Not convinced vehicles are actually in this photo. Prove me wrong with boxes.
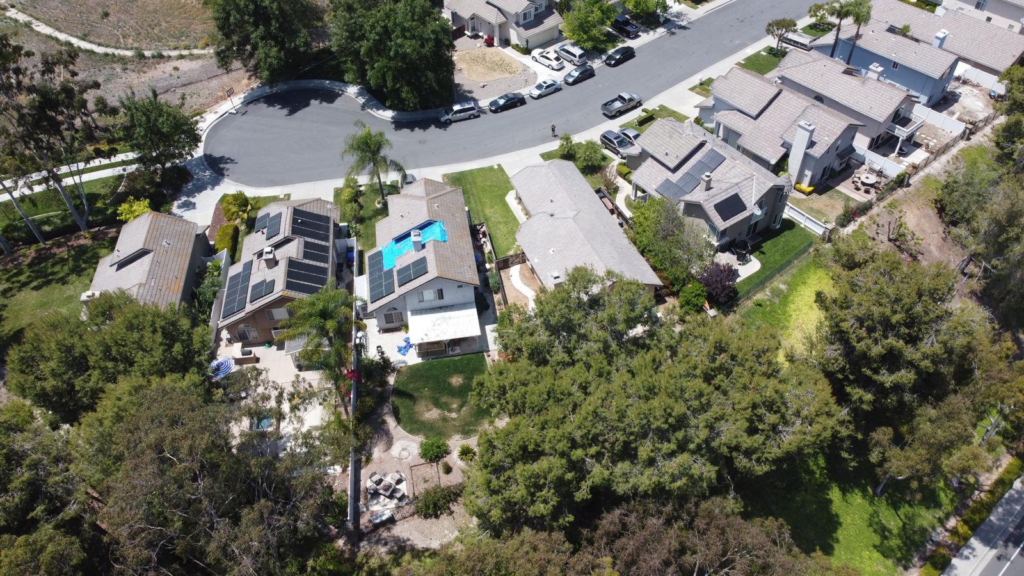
[598,90,642,116]
[527,76,564,97]
[609,14,642,36]
[563,62,596,83]
[615,120,643,140]
[555,43,587,65]
[597,125,630,156]
[438,97,482,124]
[488,90,527,112]
[396,160,419,194]
[531,49,564,69]
[604,44,638,64]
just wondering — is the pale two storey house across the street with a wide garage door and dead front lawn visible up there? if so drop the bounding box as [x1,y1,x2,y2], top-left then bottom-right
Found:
[444,0,561,55]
